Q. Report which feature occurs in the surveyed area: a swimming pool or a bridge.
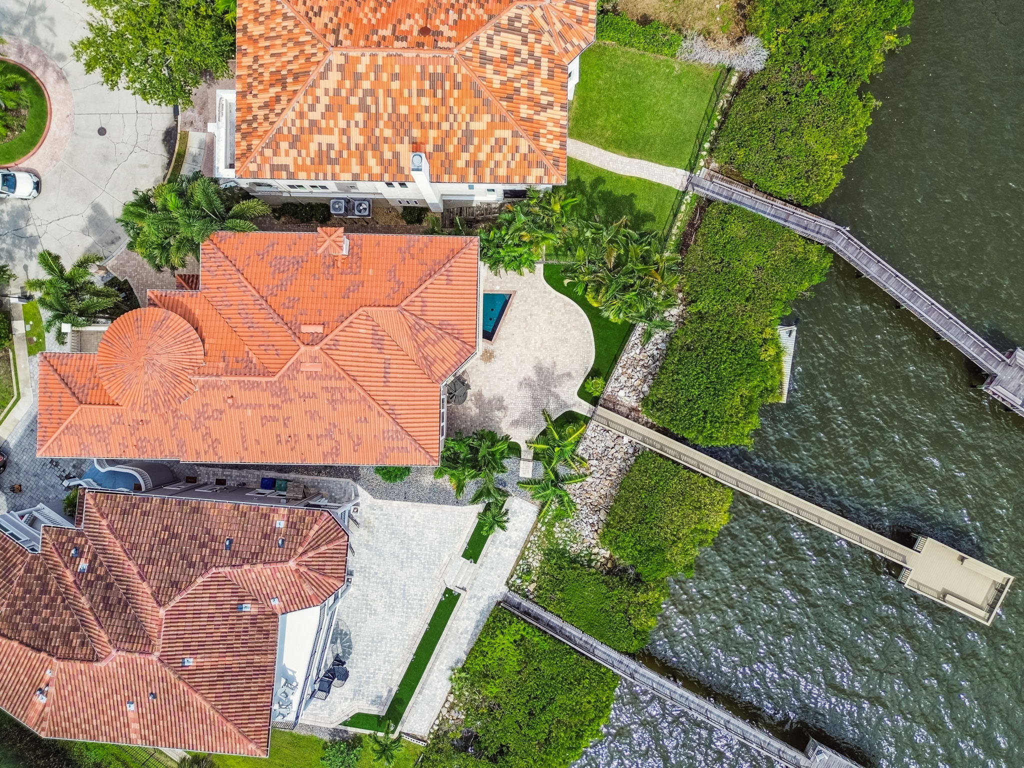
swimming pool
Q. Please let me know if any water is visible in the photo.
Yes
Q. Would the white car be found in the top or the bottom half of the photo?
top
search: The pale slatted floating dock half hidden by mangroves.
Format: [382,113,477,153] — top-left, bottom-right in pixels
[762,323,803,403]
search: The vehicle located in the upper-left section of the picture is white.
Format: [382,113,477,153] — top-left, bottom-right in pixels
[0,163,41,200]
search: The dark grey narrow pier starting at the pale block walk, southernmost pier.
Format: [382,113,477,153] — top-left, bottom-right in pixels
[501,587,885,768]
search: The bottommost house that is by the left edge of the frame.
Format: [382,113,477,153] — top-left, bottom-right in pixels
[0,459,373,759]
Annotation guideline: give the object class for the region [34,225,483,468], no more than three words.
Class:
house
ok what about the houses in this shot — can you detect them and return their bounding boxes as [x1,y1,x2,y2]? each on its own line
[34,225,483,468]
[0,459,373,759]
[206,0,598,212]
